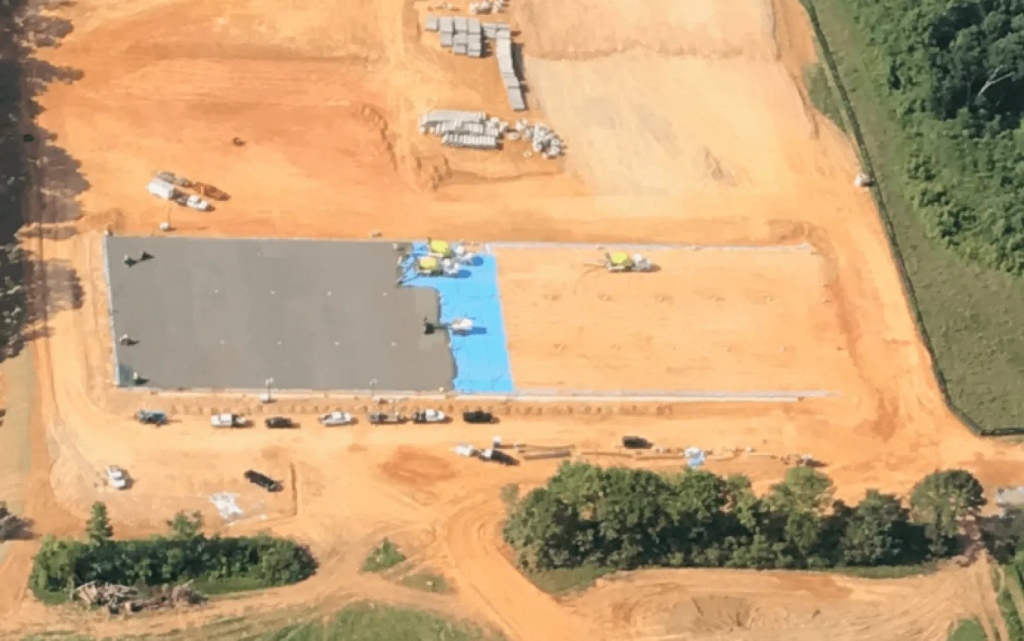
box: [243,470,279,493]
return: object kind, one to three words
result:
truck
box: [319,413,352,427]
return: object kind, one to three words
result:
vehicle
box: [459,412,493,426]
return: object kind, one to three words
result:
vehicle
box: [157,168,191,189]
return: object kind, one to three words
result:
truck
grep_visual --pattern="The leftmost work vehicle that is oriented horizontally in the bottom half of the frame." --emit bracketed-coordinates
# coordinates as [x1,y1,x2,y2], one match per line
[130,409,167,427]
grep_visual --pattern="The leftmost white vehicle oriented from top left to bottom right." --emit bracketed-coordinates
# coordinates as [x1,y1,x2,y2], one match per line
[105,464,128,491]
